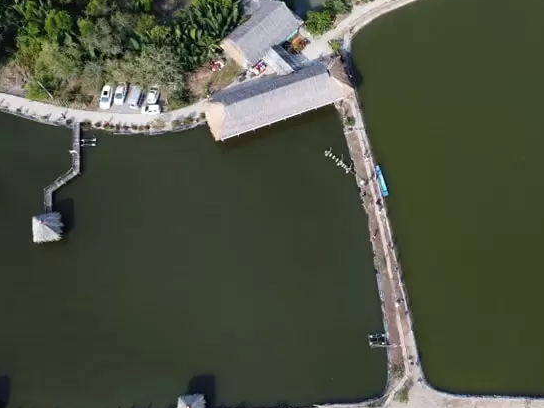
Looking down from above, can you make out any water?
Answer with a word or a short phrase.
Yes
